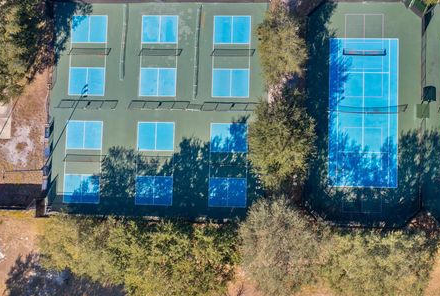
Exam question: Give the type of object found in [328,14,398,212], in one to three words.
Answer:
tennis court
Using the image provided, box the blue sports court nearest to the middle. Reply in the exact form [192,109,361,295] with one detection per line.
[209,124,248,207]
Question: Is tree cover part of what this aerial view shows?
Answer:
Yes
